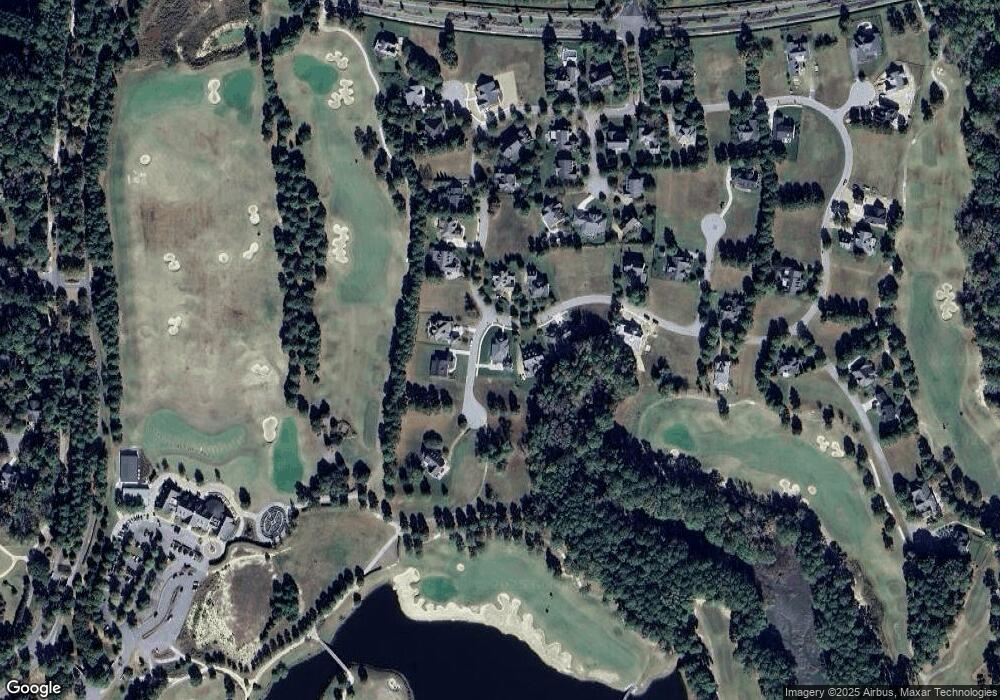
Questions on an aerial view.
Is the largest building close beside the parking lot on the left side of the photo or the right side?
left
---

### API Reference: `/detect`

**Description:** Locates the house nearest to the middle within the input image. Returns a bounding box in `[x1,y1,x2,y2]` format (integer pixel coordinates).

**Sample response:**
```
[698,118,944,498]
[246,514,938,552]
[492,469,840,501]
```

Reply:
[490,332,510,362]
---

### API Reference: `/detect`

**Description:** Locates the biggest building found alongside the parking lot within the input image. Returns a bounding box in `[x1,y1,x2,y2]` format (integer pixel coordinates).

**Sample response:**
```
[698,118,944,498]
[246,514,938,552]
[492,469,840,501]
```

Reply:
[159,486,236,545]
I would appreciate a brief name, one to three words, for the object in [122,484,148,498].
shed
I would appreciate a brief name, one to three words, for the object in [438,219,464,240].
house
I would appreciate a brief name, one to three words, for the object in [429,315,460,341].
house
